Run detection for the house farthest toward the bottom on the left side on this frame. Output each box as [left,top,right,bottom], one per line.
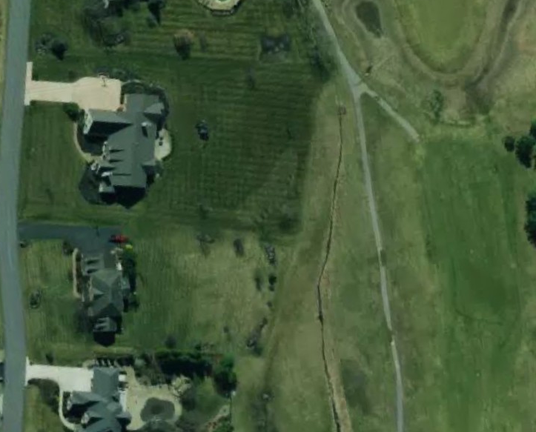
[69,366,134,432]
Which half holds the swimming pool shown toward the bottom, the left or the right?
left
